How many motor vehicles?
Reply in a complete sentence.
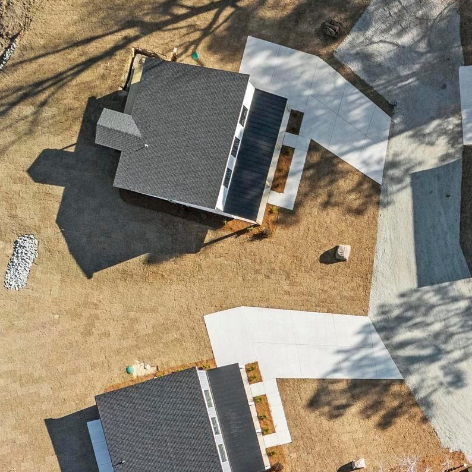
Not a single motor vehicle can be seen.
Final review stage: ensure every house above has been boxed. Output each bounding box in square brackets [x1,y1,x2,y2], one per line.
[94,57,289,227]
[93,364,270,472]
